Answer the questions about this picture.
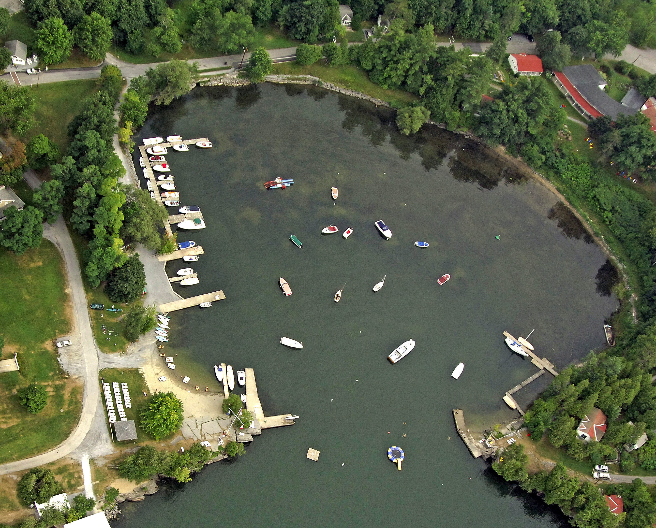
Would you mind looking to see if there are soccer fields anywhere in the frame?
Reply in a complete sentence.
No, the scene contains no soccer field.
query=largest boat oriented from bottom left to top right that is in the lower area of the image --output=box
[387,341,414,363]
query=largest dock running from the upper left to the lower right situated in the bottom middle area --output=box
[245,368,295,429]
